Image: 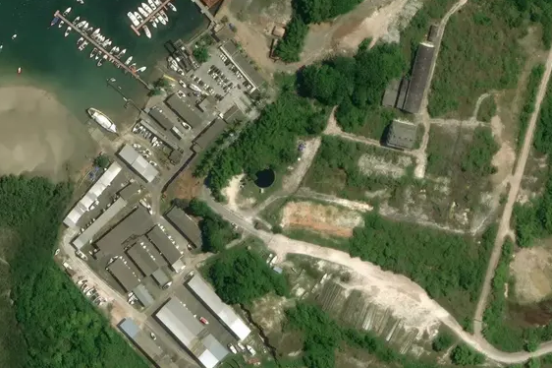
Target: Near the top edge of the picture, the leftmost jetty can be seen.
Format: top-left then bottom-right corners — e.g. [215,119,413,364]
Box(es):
[53,8,137,78]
